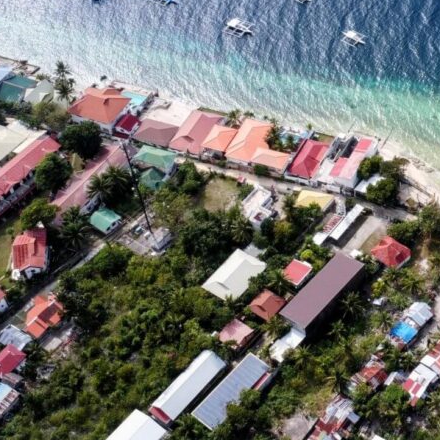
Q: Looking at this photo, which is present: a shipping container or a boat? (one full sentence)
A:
Visible in the photo is a boat.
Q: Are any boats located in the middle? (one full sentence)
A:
No, I can find no boat in the middle.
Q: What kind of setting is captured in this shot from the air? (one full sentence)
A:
This looks like a residential area.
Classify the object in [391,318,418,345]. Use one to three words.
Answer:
shed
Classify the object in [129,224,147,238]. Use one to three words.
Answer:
vehicle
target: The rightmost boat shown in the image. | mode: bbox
[341,32,368,49]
